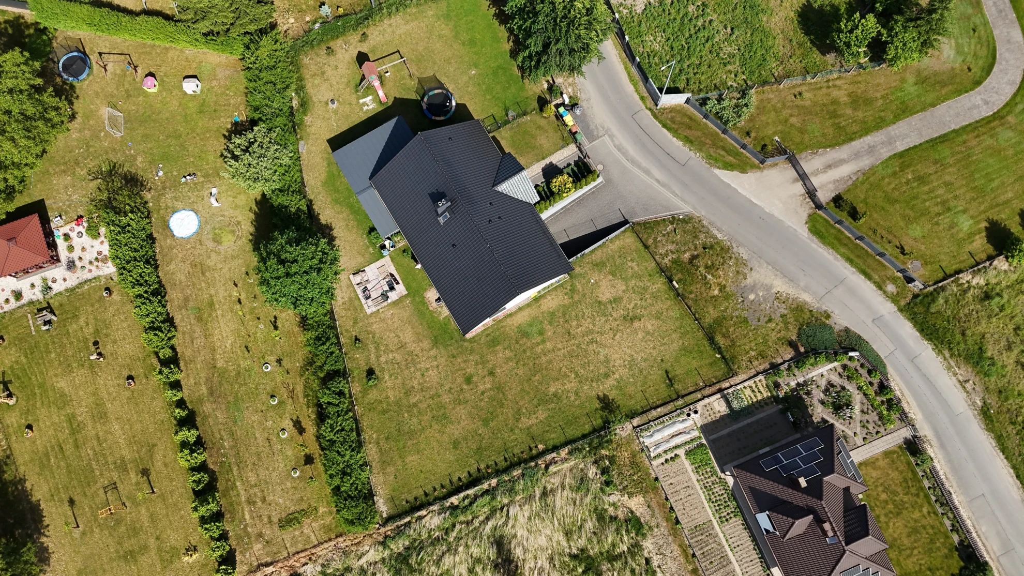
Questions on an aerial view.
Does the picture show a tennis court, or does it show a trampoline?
trampoline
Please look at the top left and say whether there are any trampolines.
Yes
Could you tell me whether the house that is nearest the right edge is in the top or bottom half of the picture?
bottom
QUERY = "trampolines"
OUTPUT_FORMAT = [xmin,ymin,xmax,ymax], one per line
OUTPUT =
[417,79,458,120]
[48,41,96,86]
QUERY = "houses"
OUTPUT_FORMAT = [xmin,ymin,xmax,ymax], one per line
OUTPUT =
[731,423,899,576]
[369,119,574,336]
[0,214,69,288]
